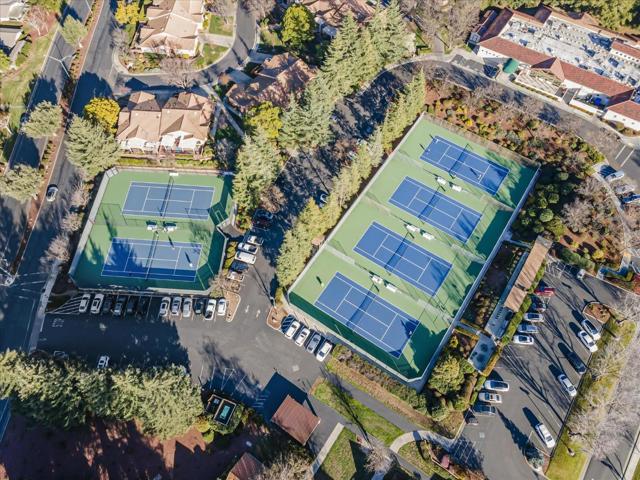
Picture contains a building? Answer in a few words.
Yes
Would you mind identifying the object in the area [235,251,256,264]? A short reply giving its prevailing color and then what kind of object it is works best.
white vehicle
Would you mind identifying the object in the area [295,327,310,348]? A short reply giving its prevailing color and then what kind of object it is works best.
white car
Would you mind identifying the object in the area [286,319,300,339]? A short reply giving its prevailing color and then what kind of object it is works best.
white car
